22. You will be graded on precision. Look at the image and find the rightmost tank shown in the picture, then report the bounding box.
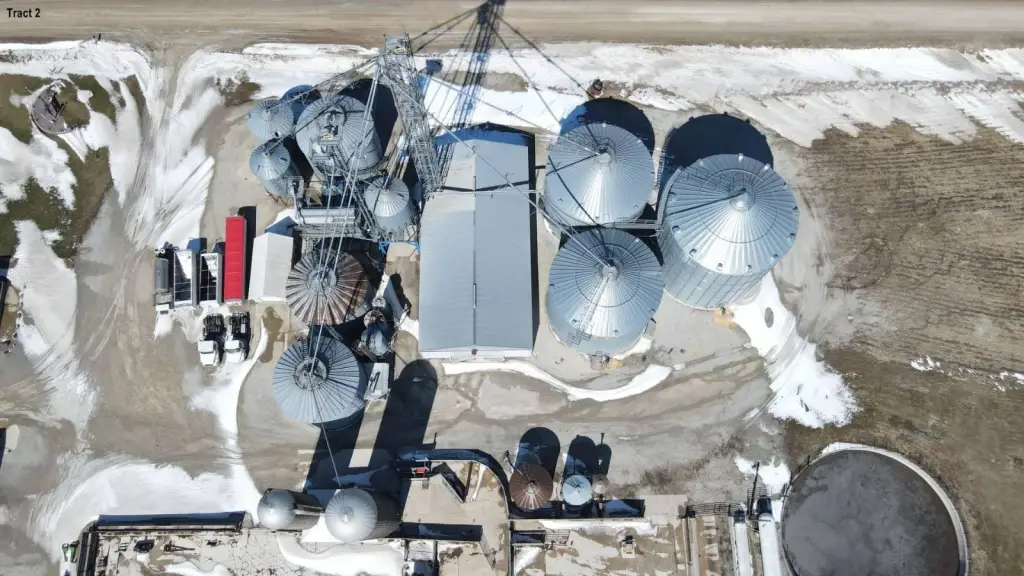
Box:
[777,450,975,576]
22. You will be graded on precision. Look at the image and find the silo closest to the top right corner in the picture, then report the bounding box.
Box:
[645,154,799,318]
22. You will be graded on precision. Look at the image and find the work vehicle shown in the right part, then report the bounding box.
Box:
[618,533,639,570]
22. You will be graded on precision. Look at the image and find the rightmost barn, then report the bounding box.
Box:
[420,141,534,357]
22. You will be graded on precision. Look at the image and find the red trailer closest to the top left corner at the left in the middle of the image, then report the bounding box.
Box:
[223,217,252,306]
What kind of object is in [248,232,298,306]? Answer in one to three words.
shed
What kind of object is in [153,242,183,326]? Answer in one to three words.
truck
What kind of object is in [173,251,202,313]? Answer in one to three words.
trailer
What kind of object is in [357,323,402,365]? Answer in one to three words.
storage tank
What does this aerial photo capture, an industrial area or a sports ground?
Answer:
industrial area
